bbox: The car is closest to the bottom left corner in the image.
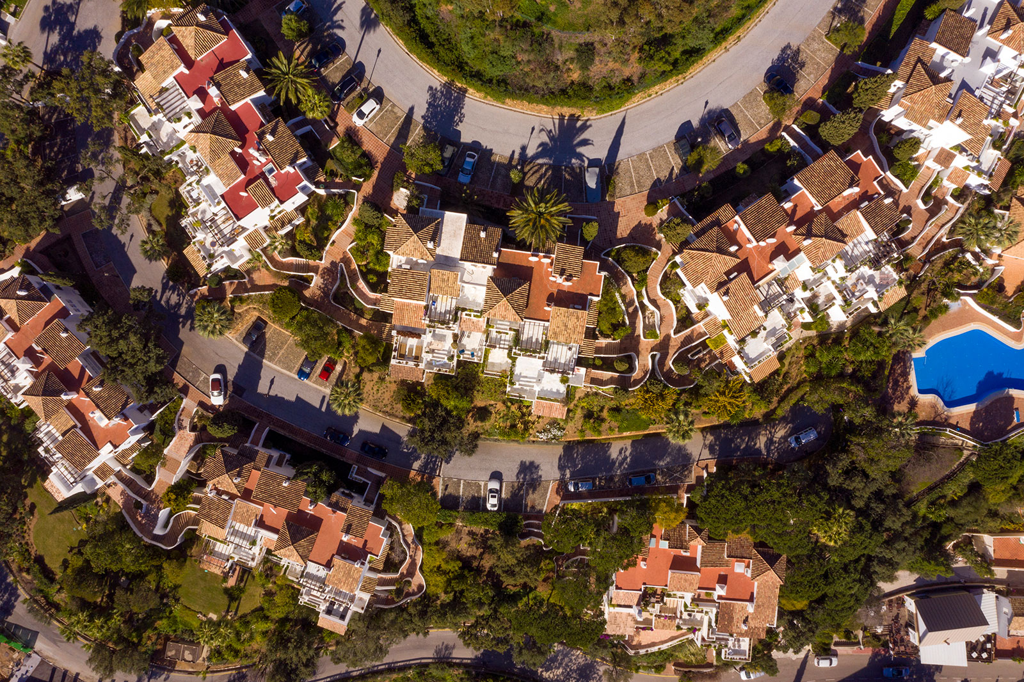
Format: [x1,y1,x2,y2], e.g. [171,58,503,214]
[209,373,226,405]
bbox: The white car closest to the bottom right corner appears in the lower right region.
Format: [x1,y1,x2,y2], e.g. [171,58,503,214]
[811,654,839,669]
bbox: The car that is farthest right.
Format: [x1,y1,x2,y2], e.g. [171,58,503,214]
[879,664,909,680]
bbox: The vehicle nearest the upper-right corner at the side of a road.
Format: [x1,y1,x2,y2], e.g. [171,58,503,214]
[761,68,794,95]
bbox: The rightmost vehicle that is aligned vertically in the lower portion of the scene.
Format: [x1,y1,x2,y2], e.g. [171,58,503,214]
[486,478,501,510]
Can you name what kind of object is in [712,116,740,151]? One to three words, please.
car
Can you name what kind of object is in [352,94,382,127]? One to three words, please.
car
